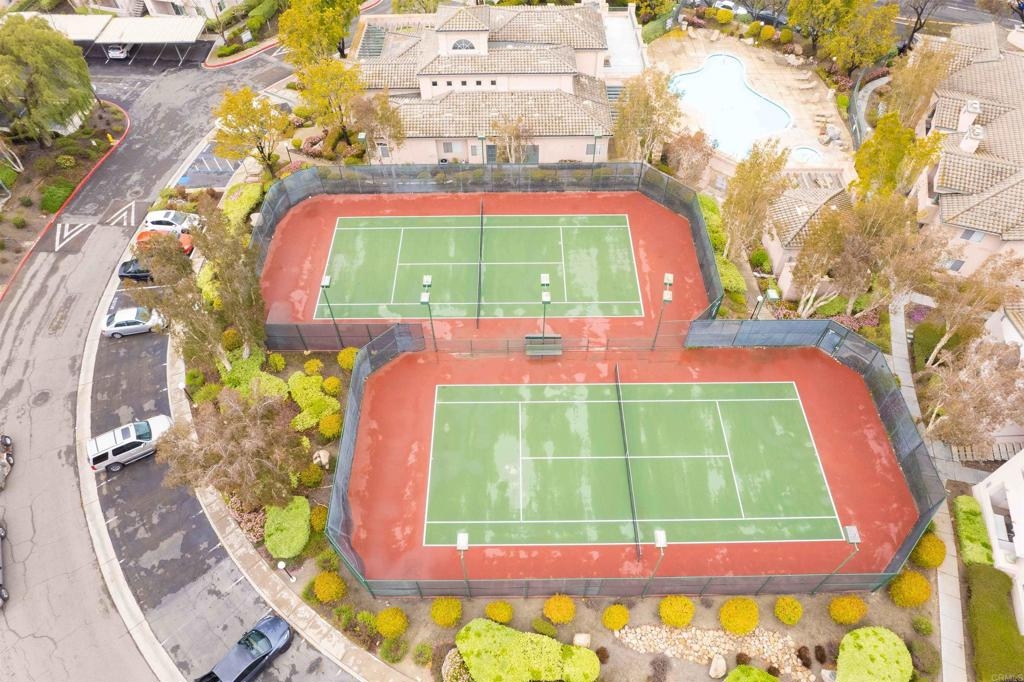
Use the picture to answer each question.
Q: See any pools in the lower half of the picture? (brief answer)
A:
No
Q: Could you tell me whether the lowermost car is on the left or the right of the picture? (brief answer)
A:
left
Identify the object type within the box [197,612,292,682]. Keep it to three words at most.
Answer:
car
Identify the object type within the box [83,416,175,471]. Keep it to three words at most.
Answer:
car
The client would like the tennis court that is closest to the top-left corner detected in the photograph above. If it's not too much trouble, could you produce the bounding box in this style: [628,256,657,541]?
[262,191,710,349]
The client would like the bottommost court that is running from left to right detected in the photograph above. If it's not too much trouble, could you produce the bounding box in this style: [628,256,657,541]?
[338,346,919,582]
